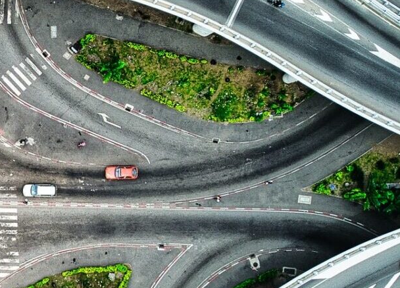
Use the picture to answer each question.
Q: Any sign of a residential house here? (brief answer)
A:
No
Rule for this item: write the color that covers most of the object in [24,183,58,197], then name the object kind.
white vehicle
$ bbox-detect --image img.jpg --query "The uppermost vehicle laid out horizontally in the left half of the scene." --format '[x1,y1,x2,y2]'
[106,164,141,179]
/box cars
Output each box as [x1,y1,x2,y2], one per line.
[24,183,58,197]
[106,164,141,179]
